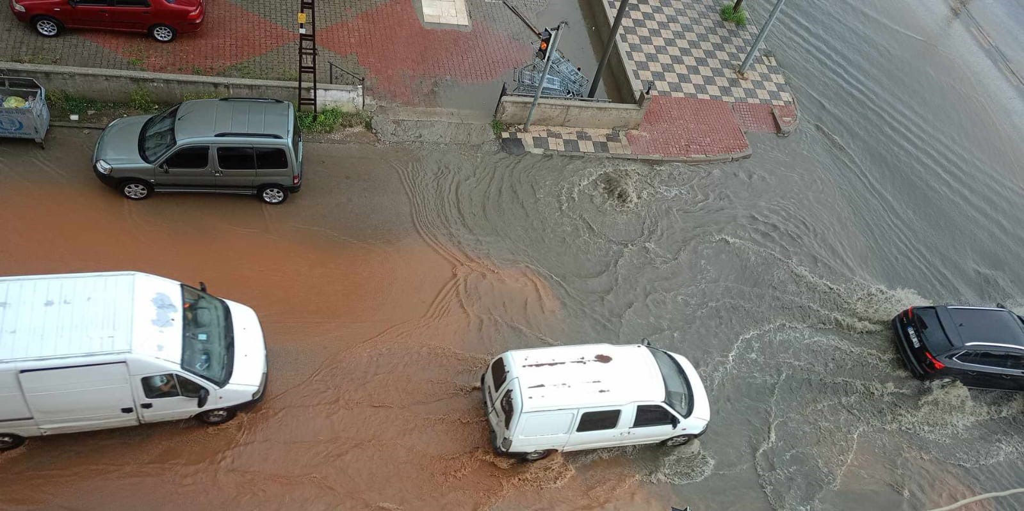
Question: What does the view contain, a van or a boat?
van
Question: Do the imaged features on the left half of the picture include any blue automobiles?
No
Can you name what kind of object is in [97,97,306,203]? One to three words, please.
car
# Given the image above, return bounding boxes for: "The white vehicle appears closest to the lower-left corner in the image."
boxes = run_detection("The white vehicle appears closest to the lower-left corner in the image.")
[0,278,268,453]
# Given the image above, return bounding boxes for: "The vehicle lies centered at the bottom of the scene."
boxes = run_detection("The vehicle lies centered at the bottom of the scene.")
[482,337,714,462]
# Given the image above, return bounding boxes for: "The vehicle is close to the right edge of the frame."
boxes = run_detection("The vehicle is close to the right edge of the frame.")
[892,304,1024,395]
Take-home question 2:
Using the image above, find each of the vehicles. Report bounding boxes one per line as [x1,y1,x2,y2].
[0,278,268,453]
[482,337,714,462]
[892,304,1024,395]
[97,97,306,203]
[12,0,208,44]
